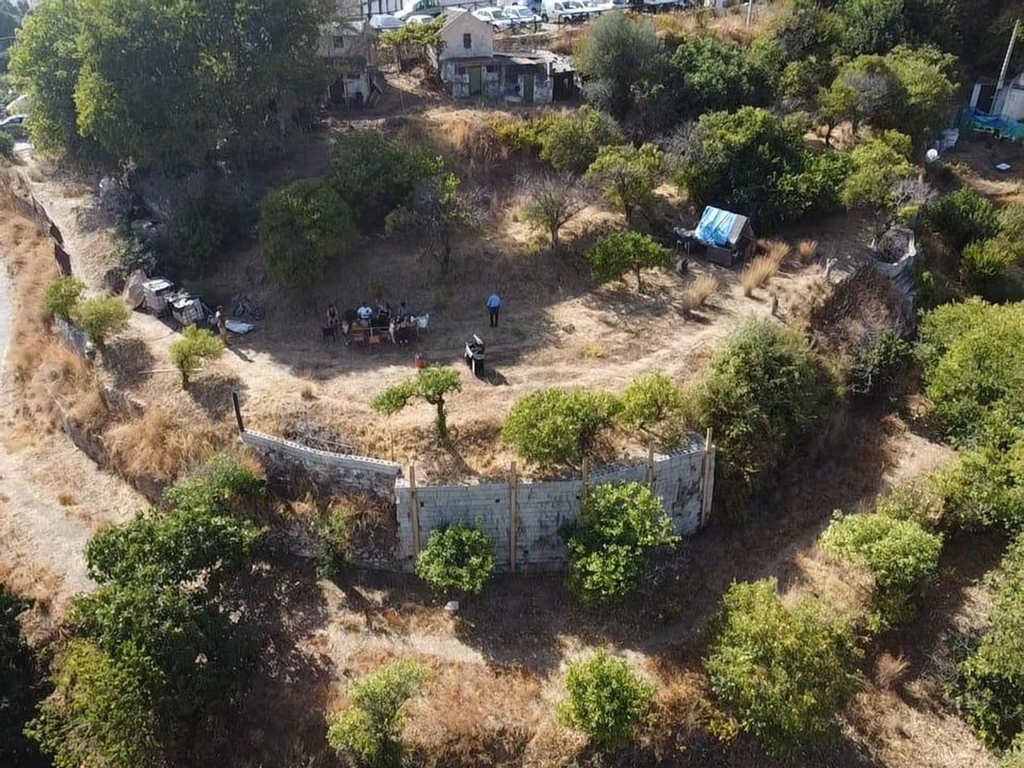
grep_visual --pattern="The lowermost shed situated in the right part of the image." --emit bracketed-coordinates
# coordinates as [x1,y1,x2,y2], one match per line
[693,212,762,273]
